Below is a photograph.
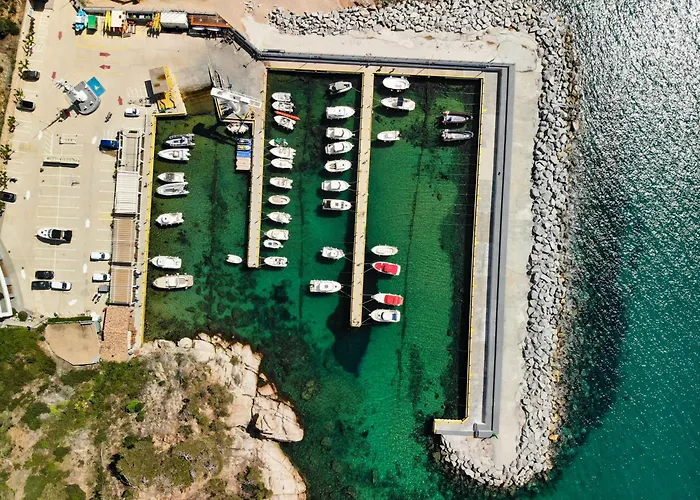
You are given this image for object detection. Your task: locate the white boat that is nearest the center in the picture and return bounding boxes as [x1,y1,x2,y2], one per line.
[319,245,355,261]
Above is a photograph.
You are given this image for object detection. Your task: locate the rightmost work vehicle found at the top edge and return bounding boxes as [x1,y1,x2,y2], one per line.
[75,10,89,29]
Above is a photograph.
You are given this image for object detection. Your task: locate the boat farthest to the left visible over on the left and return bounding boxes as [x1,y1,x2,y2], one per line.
[36,231,75,243]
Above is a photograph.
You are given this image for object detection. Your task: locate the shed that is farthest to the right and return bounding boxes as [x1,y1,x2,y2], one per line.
[190,14,230,32]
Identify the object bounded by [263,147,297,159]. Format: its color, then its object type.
white boat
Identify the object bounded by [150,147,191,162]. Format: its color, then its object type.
white boat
